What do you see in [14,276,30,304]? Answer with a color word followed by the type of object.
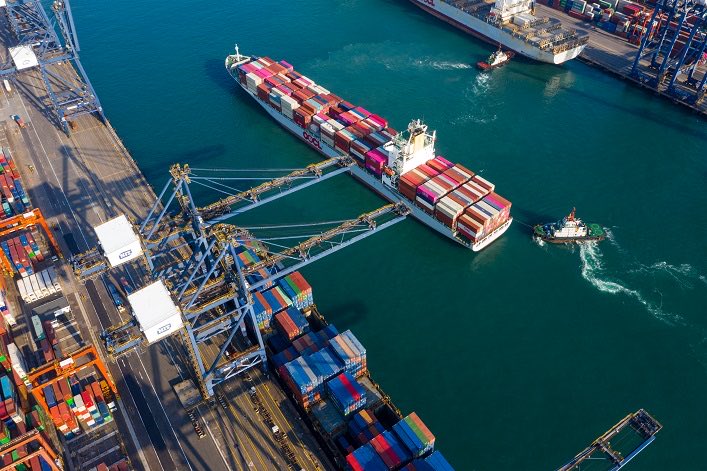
white vehicle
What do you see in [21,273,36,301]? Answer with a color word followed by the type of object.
white vehicle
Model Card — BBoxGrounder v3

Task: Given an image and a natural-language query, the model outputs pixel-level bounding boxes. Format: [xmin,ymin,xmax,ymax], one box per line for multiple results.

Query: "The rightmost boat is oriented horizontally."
[532,214,609,248]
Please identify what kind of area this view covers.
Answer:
port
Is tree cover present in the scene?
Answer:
No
